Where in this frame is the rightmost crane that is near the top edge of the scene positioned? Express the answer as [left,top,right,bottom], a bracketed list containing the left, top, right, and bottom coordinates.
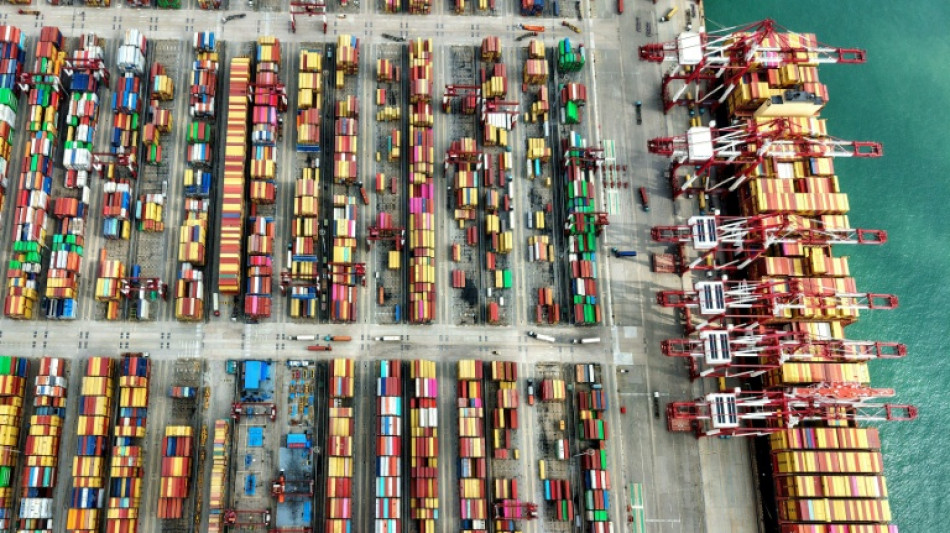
[640,18,869,112]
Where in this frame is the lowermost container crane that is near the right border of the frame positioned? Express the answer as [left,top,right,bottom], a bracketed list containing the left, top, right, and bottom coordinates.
[663,378,917,444]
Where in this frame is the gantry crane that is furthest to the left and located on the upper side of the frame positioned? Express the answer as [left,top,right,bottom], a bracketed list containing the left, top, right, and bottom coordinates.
[18,72,68,100]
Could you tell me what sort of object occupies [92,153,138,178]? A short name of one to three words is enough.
container crane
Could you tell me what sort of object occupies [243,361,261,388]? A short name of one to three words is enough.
shed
